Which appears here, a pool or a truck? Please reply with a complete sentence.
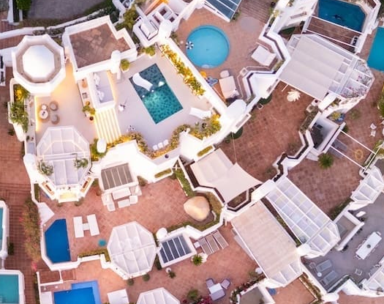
The image shows a pool.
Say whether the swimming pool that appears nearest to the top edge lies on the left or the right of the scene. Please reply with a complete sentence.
The swimming pool that appears nearest to the top edge appears in the right half of the scene.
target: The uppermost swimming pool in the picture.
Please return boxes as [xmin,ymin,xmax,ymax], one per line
[315,0,367,33]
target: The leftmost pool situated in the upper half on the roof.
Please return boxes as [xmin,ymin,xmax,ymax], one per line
[128,62,184,126]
